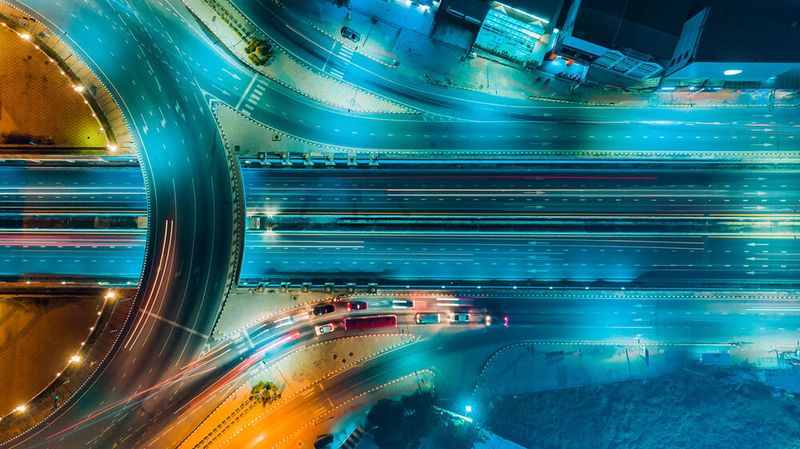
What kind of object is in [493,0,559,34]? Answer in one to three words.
building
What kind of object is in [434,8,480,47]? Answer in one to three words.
building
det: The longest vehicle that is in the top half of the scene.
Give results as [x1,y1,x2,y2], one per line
[339,27,360,41]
